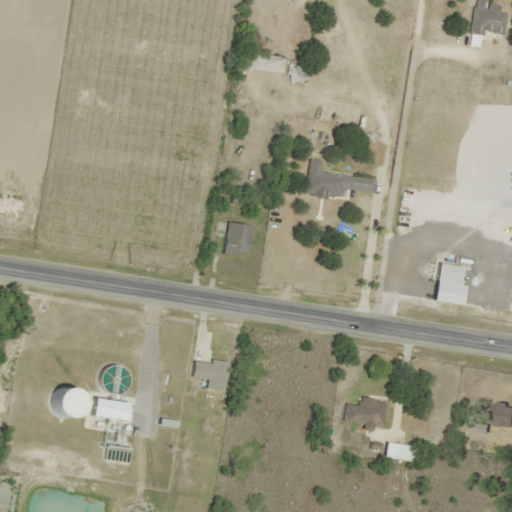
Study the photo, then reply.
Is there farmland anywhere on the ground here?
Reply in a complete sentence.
Yes, some farmland is visible.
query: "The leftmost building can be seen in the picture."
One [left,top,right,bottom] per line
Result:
[94,398,134,420]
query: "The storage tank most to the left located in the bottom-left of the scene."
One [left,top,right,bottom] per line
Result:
[50,386,92,418]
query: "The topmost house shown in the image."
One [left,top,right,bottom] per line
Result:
[467,0,506,38]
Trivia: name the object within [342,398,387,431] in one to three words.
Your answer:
house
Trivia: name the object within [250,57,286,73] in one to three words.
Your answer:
house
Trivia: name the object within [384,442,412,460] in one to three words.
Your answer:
shed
